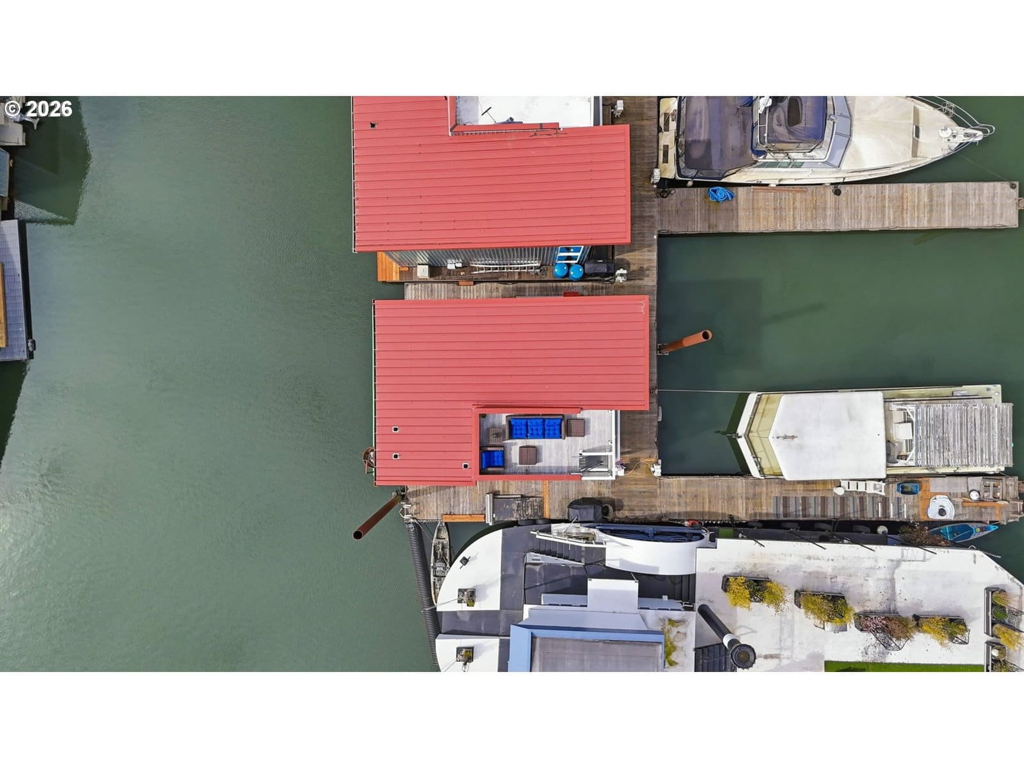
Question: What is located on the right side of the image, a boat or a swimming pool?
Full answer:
Visible on the right side of the image is a boat.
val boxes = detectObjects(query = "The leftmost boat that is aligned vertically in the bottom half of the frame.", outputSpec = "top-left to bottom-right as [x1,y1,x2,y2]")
[429,522,448,599]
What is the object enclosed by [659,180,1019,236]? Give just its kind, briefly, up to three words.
pier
